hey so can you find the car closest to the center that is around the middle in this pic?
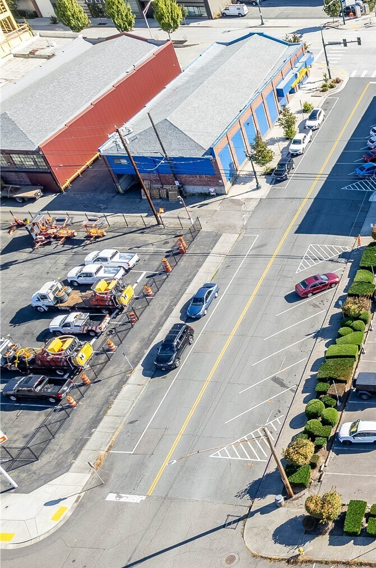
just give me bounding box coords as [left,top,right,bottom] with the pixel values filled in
[187,284,220,319]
